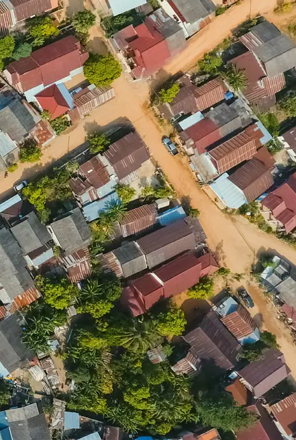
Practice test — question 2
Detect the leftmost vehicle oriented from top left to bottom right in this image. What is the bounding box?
[163,133,179,154]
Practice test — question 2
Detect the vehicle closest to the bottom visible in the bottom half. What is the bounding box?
[239,287,255,309]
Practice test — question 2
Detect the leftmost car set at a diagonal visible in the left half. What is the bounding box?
[12,179,30,194]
